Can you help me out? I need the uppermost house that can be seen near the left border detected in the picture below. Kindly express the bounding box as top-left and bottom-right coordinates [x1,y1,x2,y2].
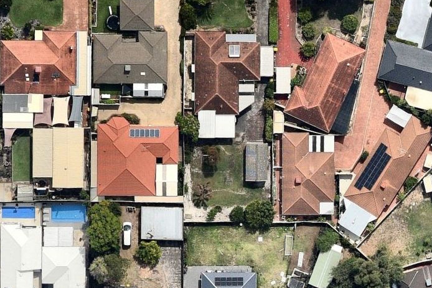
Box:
[0,30,91,96]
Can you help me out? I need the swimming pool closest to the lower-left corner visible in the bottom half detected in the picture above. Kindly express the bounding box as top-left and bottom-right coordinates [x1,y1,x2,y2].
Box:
[0,205,36,219]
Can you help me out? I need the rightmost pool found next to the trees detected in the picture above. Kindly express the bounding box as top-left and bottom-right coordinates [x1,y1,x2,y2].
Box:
[50,204,88,223]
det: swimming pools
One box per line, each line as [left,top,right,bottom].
[0,205,36,219]
[50,204,88,223]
